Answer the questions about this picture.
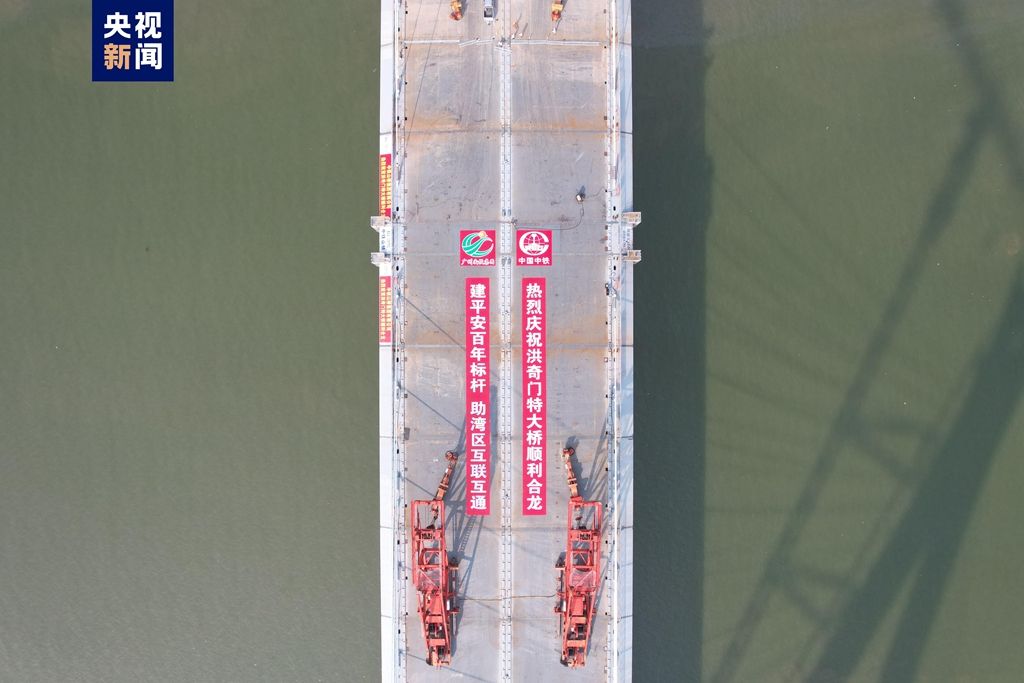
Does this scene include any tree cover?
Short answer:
No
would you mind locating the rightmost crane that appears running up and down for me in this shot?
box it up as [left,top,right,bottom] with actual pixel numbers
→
[552,449,603,668]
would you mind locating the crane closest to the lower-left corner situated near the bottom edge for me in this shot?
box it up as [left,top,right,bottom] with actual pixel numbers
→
[410,450,461,668]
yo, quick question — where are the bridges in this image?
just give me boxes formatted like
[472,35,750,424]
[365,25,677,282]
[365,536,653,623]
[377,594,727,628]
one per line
[381,0,633,683]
